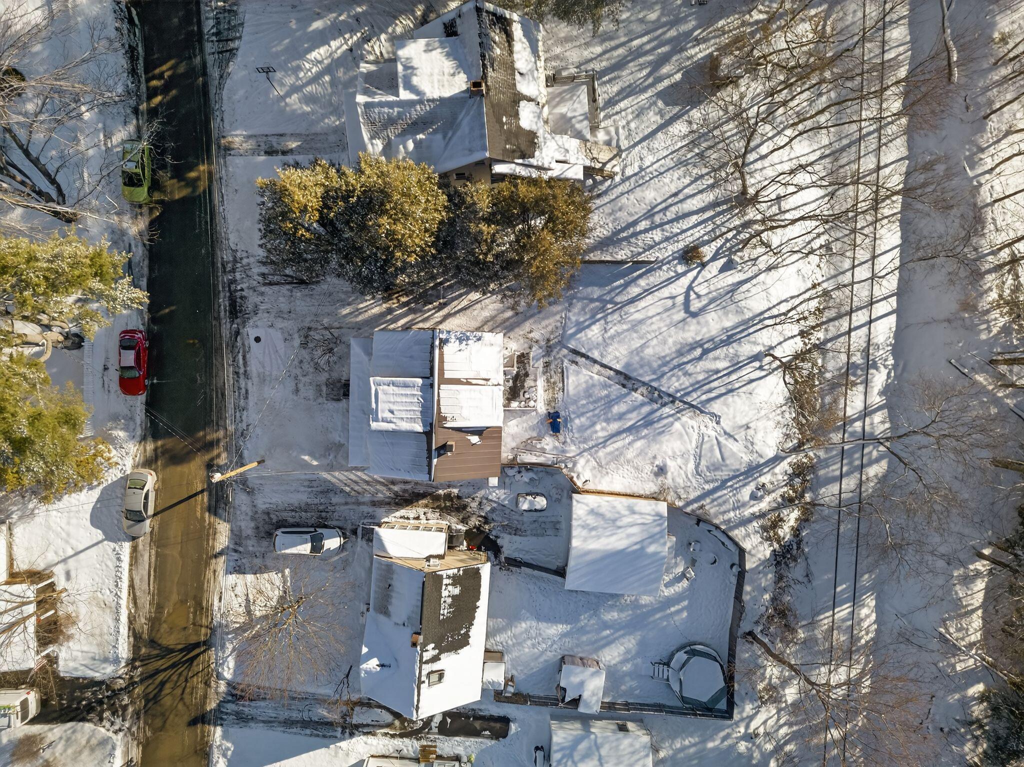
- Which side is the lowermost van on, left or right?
left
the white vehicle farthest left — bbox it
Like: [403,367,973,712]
[0,691,39,727]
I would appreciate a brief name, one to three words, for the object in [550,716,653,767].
shed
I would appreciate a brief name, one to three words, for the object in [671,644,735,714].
swimming pool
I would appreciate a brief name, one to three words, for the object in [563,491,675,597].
building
